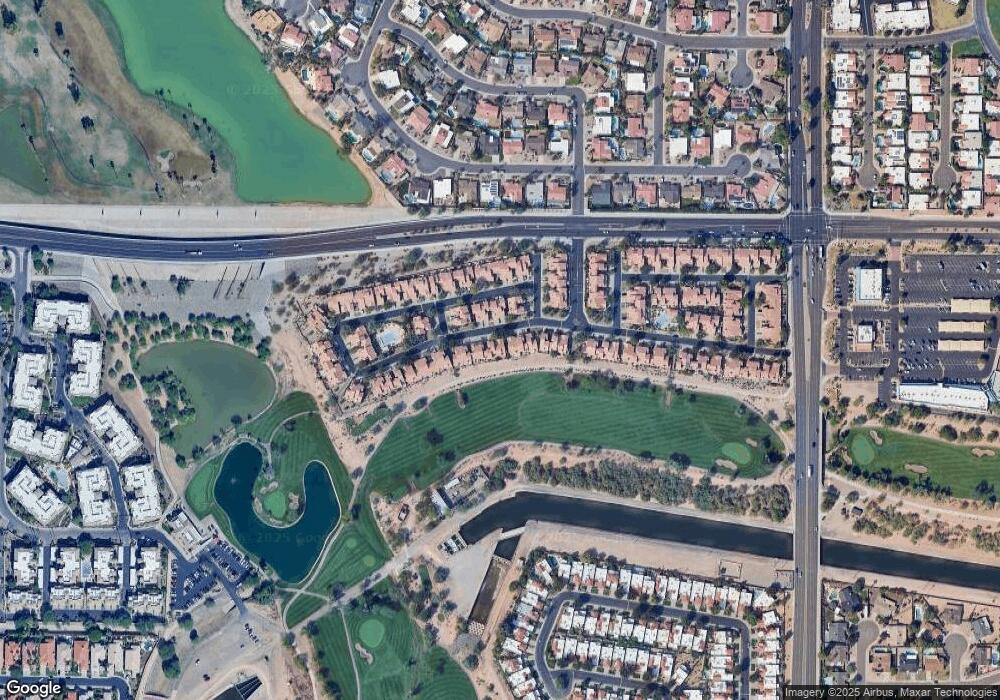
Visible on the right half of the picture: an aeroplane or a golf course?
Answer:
golf course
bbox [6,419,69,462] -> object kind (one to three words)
building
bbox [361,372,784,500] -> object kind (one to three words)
golf course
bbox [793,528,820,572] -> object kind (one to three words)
bridge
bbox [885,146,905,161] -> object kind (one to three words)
house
